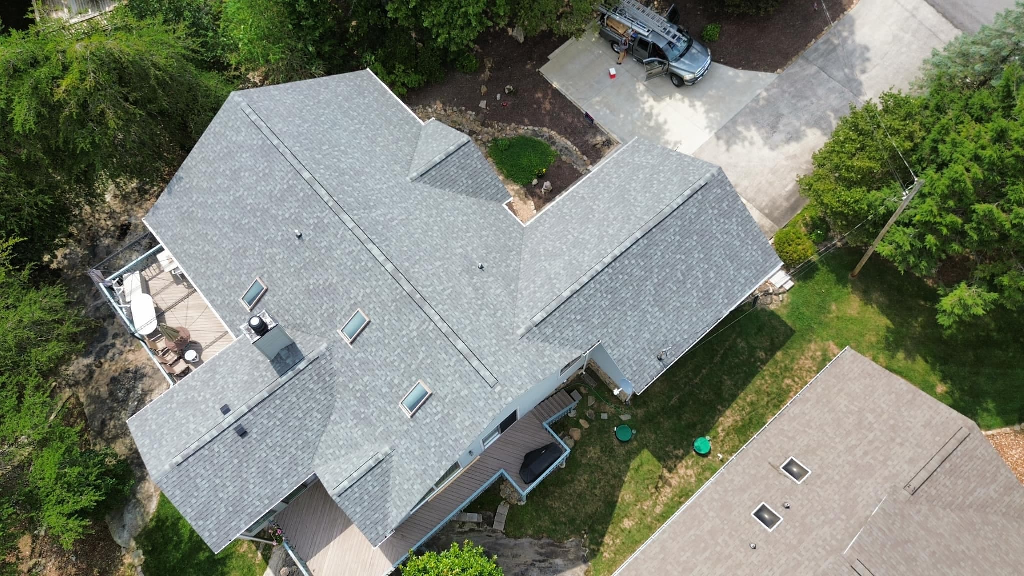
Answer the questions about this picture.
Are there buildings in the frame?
Yes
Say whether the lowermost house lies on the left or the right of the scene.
right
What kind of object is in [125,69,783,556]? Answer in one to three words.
house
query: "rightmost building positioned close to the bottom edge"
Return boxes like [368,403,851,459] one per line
[609,348,1024,576]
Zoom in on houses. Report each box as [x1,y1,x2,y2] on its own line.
[609,348,1024,576]
[125,69,783,556]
